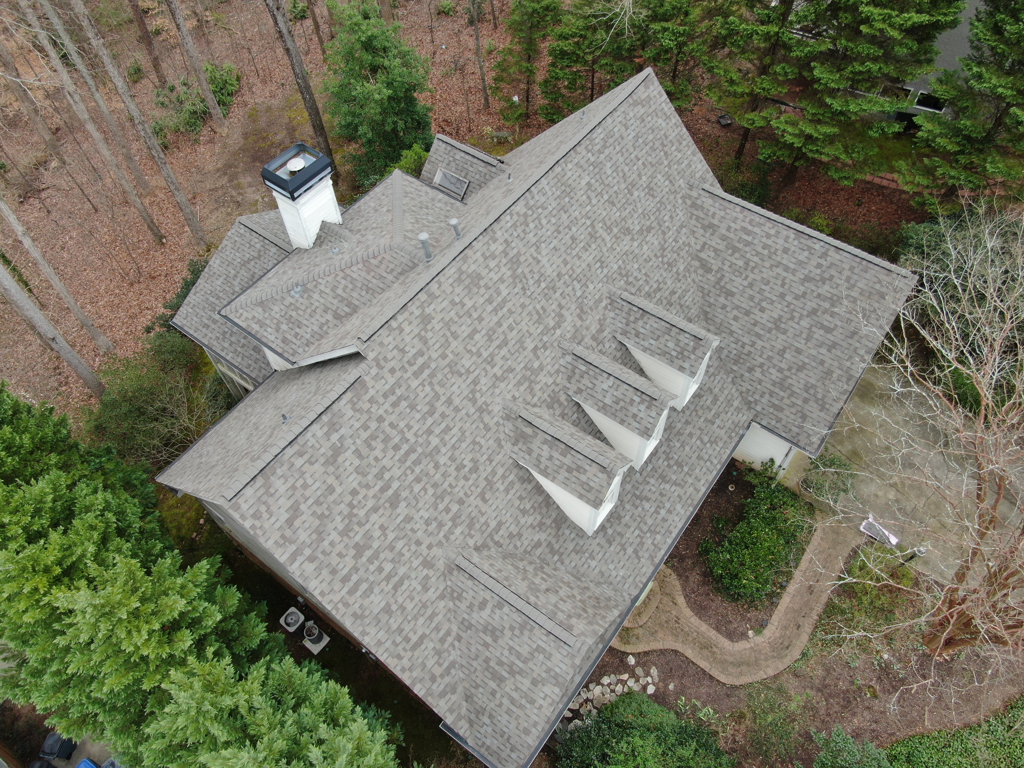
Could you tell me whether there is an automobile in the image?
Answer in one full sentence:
No, there's no automobile here.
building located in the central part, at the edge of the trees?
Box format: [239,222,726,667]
[153,69,919,768]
